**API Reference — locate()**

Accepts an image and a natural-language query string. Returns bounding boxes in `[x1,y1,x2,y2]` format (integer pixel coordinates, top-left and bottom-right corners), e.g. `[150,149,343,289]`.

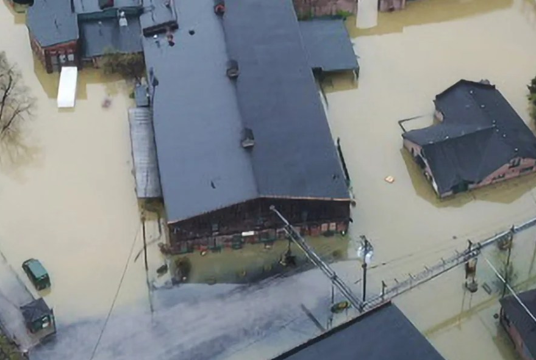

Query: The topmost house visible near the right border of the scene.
[398,85,536,205]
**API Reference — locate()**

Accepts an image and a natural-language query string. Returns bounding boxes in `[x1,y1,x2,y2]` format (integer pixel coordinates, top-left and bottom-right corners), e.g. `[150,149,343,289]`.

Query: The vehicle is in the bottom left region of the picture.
[23,262,50,295]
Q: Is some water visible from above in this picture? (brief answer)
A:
Yes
